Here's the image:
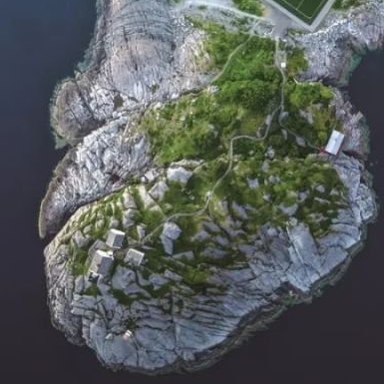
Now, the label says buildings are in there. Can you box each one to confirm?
[89,250,114,277]
[107,229,126,248]
[125,248,144,266]
[325,130,345,155]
